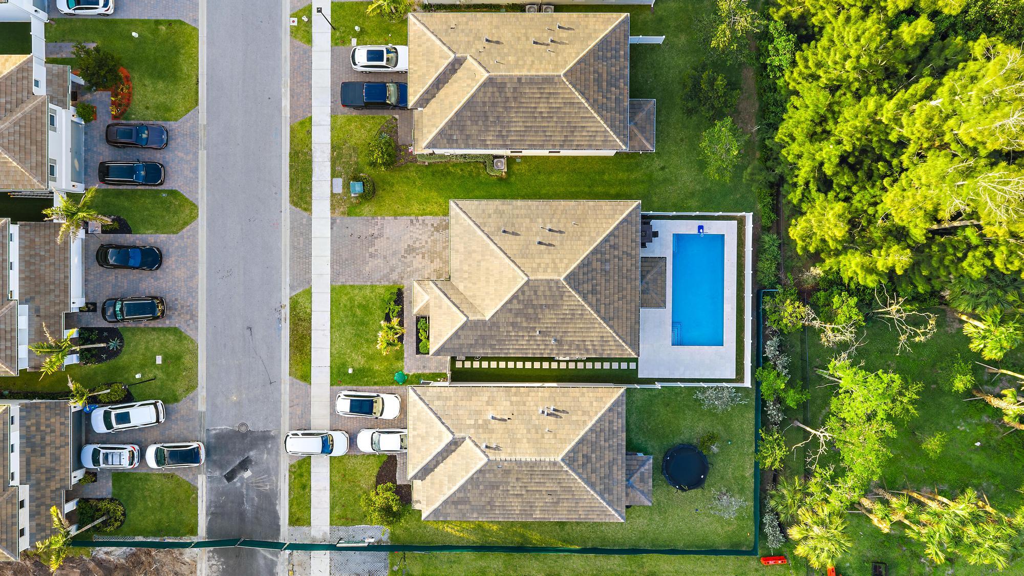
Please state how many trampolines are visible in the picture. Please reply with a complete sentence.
I count 1 trampoline.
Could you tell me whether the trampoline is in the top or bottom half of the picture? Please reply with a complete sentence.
The trampoline sits in the bottom half of the picture.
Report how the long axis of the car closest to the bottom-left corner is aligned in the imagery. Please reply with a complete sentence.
The car closest to the bottom-left corner is oriented horizontally.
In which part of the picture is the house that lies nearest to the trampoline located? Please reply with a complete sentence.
The house that lies nearest to the trampoline appears toward the bottom of the photo.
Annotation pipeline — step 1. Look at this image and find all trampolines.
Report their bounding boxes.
[661,443,717,498]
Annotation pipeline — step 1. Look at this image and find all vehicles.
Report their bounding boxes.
[357,427,406,457]
[94,399,167,435]
[102,294,169,325]
[335,390,402,422]
[96,242,166,272]
[98,158,168,188]
[147,440,207,471]
[350,42,406,74]
[105,120,172,150]
[340,78,408,111]
[57,0,118,17]
[82,442,143,472]
[284,428,350,459]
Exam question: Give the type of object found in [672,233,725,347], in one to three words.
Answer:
swimming pool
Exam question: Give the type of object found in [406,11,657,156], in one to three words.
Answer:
house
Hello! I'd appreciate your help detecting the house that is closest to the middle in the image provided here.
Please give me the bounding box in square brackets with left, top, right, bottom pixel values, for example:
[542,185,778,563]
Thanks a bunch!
[411,198,668,359]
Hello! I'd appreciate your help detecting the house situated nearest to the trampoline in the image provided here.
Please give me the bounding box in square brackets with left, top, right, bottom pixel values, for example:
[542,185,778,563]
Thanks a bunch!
[406,384,654,523]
